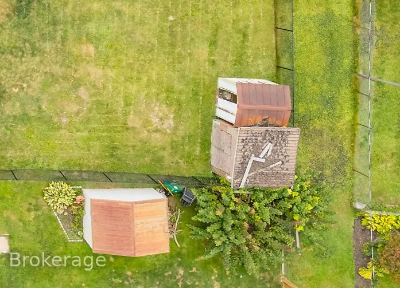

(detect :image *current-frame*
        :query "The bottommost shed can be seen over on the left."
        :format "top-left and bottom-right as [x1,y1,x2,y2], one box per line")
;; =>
[84,188,169,262]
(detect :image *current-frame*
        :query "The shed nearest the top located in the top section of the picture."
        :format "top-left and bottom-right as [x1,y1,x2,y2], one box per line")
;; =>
[216,77,297,128]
